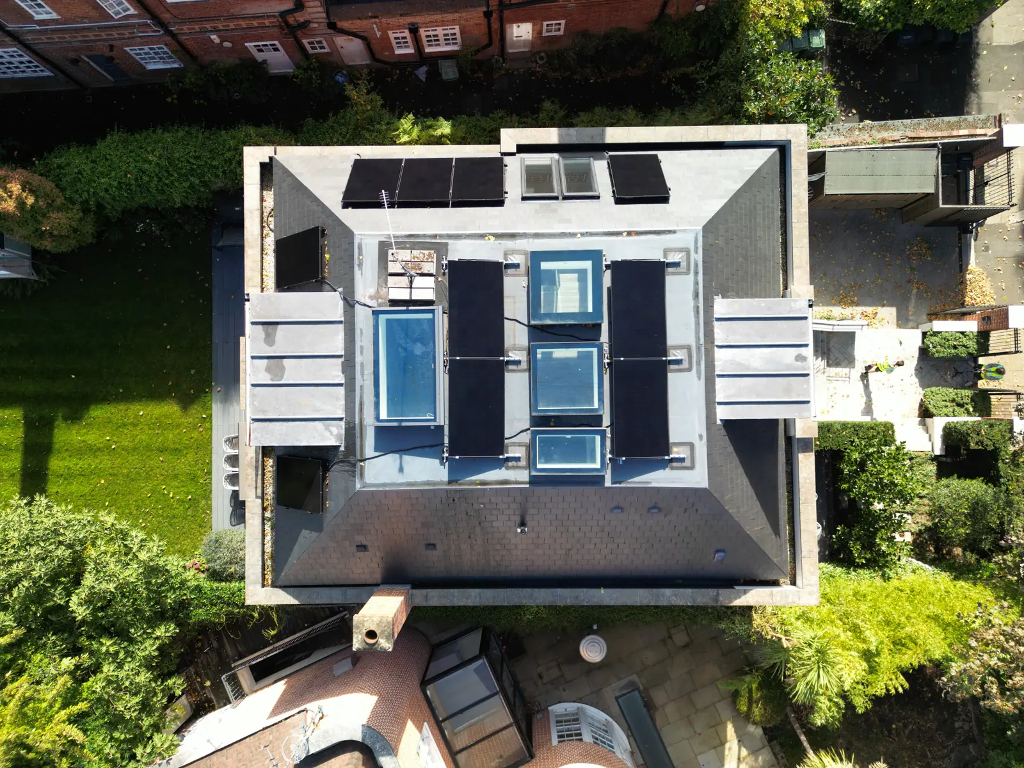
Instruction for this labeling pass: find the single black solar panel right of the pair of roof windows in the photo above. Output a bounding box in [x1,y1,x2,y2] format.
[608,154,669,199]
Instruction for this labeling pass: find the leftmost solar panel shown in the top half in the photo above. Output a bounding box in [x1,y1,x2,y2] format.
[275,227,327,287]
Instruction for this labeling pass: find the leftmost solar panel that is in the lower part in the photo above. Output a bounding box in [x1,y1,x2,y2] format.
[276,456,327,513]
